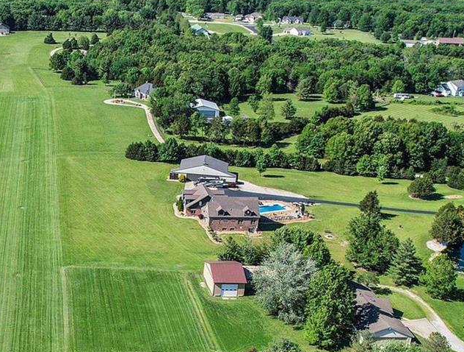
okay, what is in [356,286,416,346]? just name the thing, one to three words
house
